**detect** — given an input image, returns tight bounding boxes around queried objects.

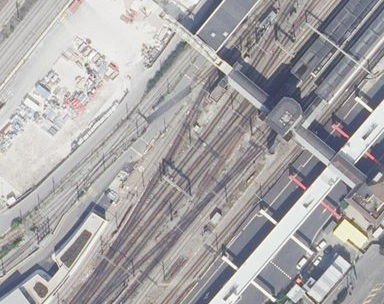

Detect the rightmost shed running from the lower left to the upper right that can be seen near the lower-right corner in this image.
[306,254,350,303]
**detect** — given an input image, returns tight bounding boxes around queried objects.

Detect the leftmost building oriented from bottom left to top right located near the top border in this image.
[196,0,259,54]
